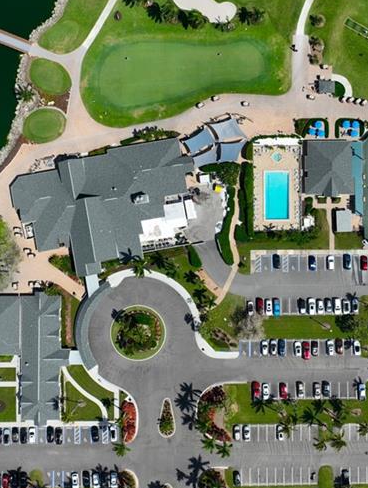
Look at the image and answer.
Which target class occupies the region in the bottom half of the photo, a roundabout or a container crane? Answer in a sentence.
The one visible in the bottom half of the photo is a roundabout.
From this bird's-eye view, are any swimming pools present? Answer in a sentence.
Yes, a swimming pool can be made out from above.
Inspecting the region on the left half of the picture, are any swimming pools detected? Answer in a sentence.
No, no swimming pool can be made out on the left half of the picture.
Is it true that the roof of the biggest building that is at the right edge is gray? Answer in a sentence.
Yes, the roof of the biggest building that is at the right edge appears gray.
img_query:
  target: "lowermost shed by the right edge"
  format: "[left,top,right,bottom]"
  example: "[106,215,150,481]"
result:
[336,210,352,232]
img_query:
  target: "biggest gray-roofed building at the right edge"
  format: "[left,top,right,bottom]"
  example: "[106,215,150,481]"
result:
[305,141,354,196]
